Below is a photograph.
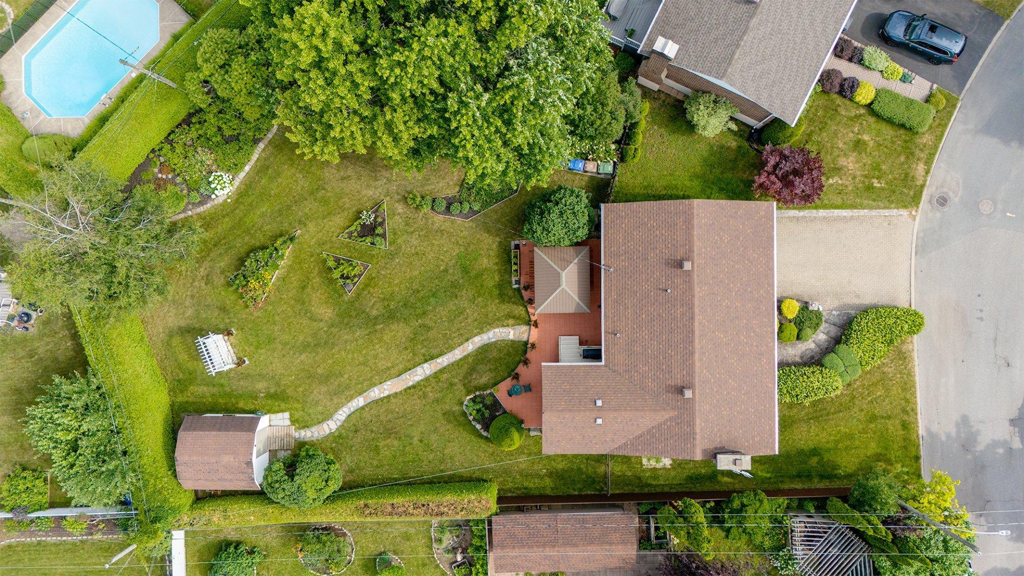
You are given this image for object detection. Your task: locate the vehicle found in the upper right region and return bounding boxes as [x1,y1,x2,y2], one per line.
[878,9,976,67]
